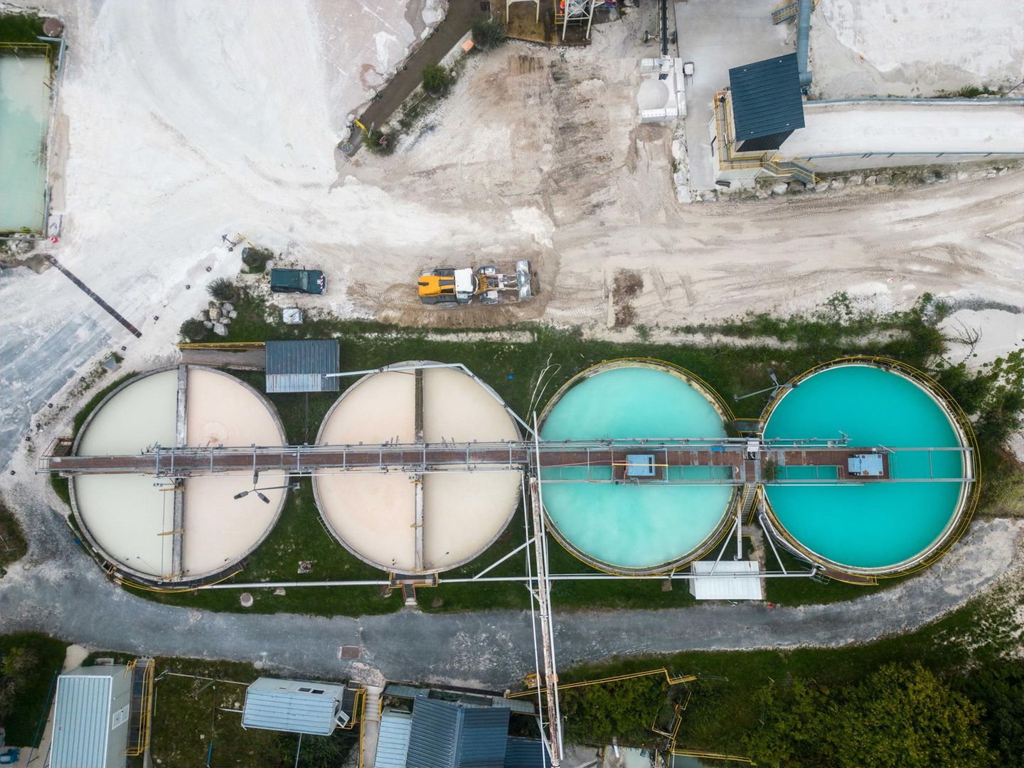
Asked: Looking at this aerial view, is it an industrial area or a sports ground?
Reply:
industrial area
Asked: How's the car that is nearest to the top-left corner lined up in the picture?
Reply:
from side to side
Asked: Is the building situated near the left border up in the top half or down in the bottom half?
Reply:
bottom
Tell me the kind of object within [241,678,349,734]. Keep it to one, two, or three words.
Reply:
building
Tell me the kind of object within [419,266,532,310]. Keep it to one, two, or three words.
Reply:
work vehicle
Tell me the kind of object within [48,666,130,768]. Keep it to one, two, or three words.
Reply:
building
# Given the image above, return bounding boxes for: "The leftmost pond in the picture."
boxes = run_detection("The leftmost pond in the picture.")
[0,39,51,233]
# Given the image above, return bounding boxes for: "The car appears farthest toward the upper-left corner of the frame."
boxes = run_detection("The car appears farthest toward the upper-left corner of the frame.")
[271,270,327,296]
